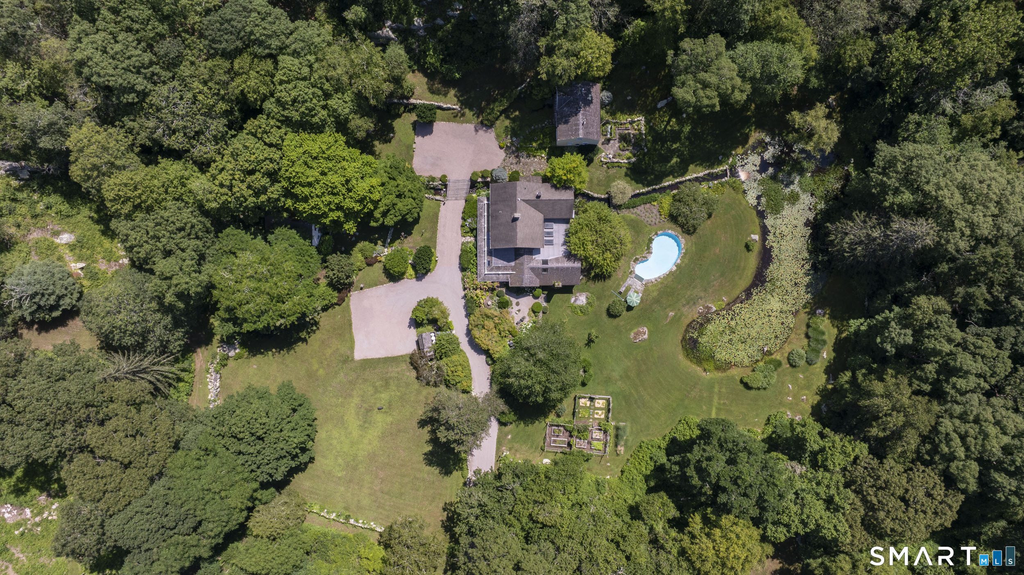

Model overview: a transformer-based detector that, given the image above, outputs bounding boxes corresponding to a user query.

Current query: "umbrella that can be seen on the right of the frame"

[626,292,640,306]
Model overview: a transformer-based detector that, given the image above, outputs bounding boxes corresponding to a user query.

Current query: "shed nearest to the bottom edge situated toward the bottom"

[416,334,435,358]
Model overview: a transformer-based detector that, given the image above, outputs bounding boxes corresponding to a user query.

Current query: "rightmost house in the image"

[552,77,600,145]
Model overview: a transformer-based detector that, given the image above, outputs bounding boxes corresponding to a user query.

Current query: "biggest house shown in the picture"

[477,177,581,286]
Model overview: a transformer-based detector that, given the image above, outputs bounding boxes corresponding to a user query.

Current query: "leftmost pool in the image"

[629,227,687,285]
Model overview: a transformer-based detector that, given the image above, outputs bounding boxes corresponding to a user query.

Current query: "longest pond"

[683,137,848,369]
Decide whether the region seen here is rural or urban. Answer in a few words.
rural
